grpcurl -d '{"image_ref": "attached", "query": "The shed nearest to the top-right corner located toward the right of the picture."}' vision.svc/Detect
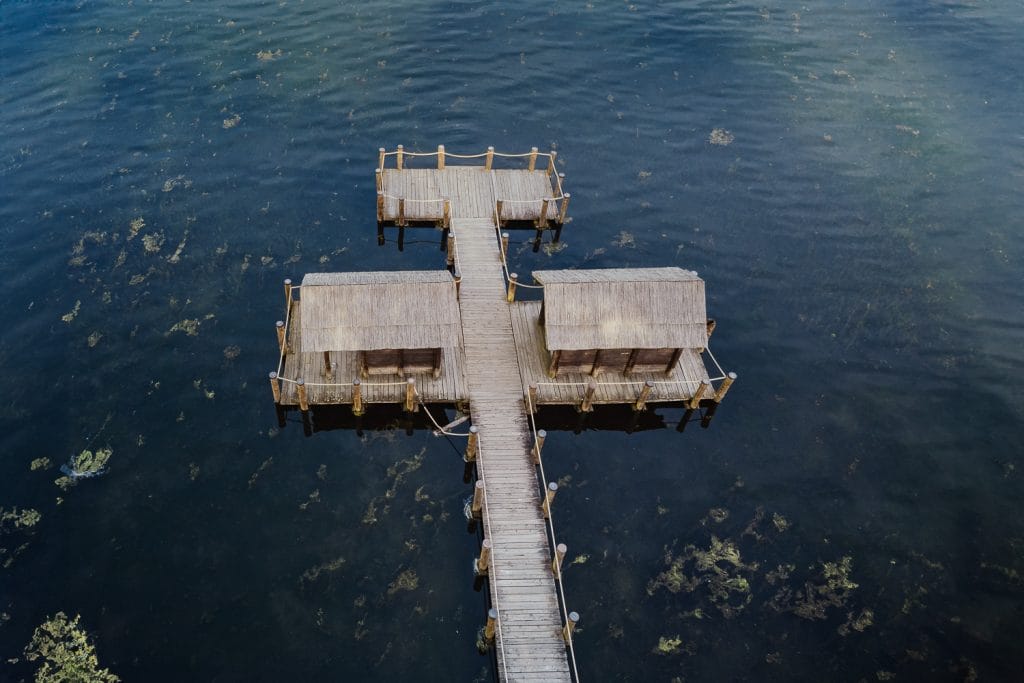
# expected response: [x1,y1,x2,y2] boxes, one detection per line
[533,270,710,377]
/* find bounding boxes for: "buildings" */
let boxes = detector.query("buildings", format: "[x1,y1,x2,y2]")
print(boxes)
[301,270,458,381]
[533,270,710,377]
